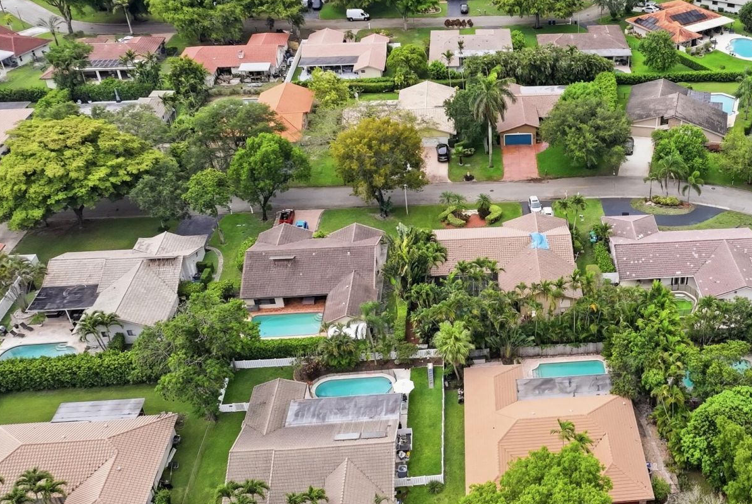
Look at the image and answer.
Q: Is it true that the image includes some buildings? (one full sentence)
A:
Yes, the frame does contain a building.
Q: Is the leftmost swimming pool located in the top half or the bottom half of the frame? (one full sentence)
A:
It is in the bottom half that the leftmost swimming pool appears.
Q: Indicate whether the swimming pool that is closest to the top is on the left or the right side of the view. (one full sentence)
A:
The swimming pool that is closest to the top sits on the right side.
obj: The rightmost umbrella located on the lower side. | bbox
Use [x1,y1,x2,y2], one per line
[391,371,414,394]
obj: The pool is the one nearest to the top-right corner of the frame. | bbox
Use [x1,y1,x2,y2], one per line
[727,35,752,58]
